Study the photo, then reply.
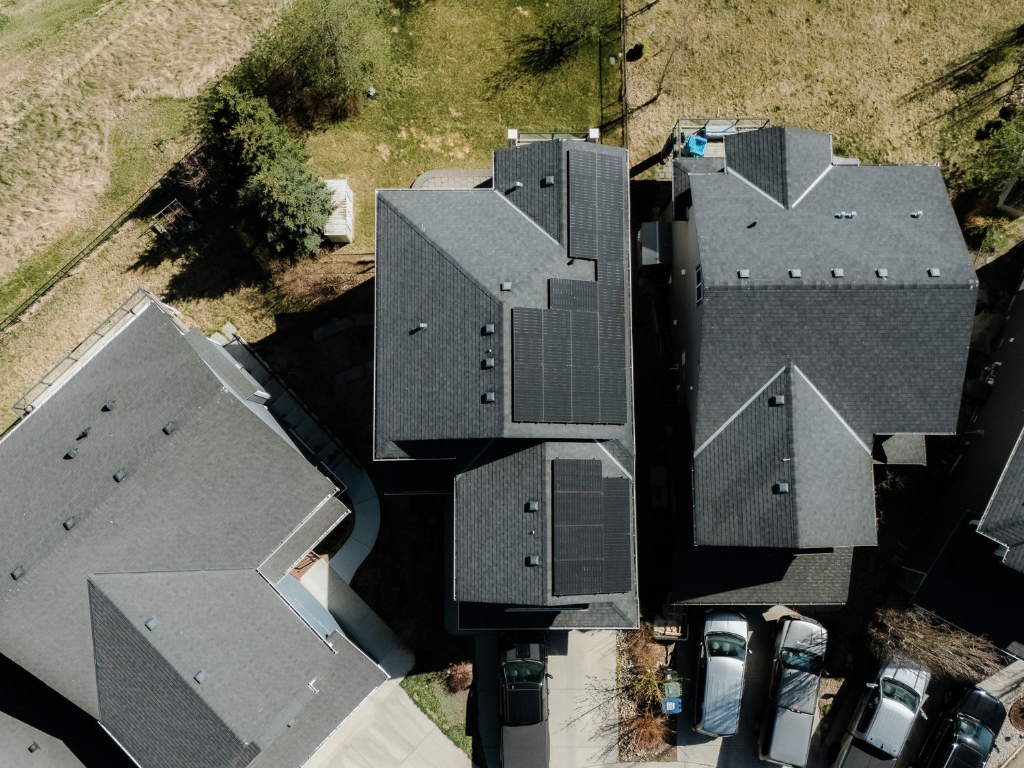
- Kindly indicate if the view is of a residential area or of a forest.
residential area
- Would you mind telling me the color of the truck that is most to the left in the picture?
black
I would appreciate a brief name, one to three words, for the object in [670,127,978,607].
house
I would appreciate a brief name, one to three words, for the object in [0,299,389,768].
house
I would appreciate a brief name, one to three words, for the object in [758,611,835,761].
truck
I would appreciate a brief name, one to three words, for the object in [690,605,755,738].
car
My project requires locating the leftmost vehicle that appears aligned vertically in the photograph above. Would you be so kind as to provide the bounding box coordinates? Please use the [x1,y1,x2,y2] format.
[493,630,556,768]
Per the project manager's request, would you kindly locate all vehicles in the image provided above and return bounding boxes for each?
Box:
[828,646,933,768]
[758,611,835,761]
[493,630,556,768]
[690,605,755,738]
[917,679,1005,768]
